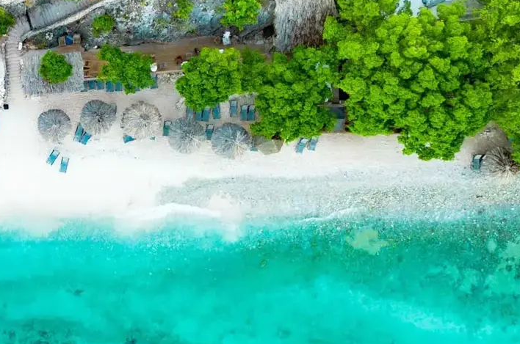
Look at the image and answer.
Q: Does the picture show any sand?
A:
Yes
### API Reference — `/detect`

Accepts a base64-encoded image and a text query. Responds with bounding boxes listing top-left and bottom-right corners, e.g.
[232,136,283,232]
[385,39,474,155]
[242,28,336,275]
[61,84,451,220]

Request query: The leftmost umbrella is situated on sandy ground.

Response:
[35,107,72,144]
